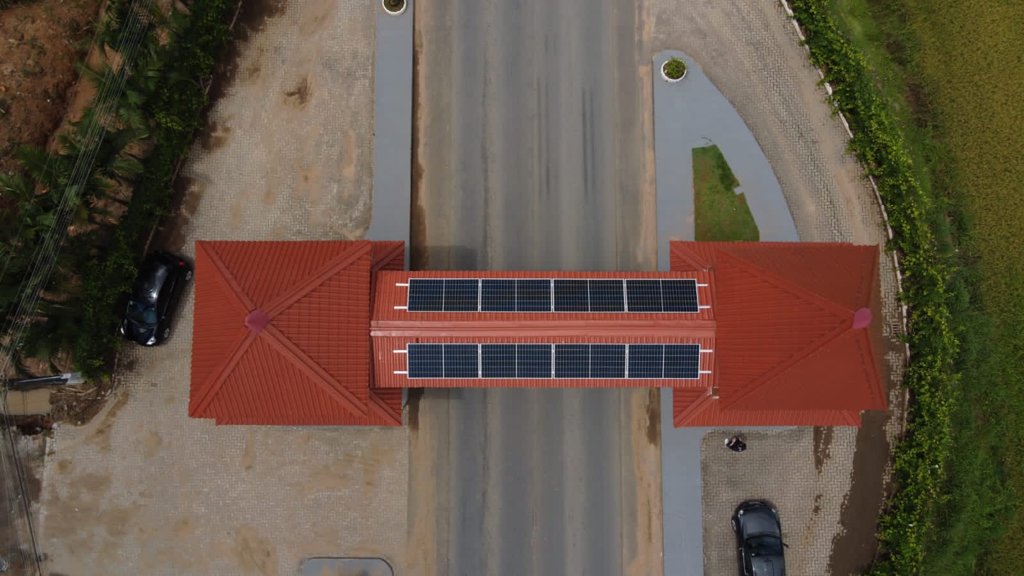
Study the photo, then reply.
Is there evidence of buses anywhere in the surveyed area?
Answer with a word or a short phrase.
No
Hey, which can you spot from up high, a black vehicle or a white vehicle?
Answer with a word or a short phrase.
black vehicle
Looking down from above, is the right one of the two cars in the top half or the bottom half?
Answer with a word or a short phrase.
bottom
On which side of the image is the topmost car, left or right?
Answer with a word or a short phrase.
left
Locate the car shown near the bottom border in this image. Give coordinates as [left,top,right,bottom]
[734,502,794,576]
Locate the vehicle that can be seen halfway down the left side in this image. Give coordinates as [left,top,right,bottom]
[115,247,189,349]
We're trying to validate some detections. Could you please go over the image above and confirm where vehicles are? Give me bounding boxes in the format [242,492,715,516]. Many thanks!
[115,247,189,349]
[734,502,794,576]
